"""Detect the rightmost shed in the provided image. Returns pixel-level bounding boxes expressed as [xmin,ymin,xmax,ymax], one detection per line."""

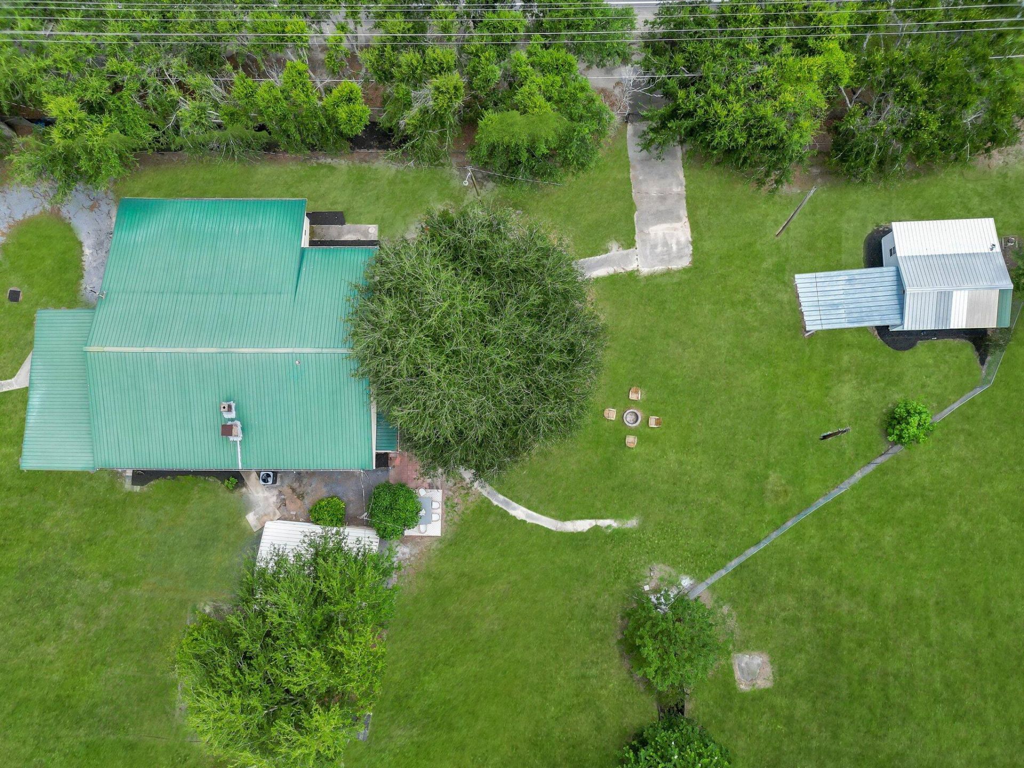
[882,218,1014,330]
